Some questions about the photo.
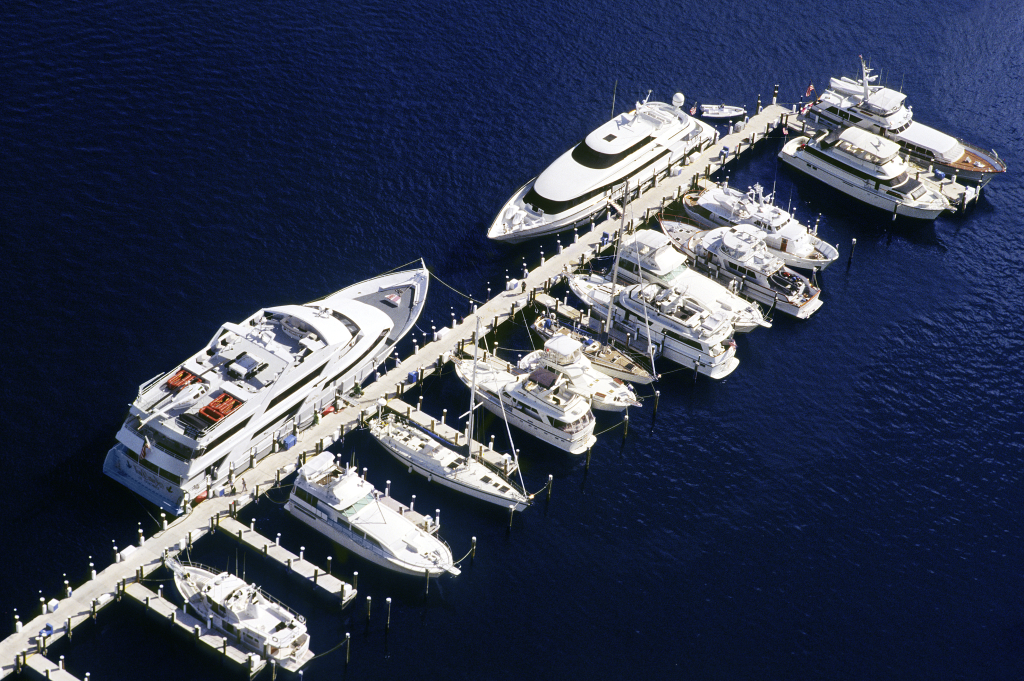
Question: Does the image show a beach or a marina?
marina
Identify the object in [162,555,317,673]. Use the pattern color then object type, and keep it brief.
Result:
white boat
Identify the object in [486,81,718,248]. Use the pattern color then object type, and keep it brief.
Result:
white boat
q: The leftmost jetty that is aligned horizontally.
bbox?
[22,657,79,681]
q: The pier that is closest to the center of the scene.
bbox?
[464,344,533,378]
